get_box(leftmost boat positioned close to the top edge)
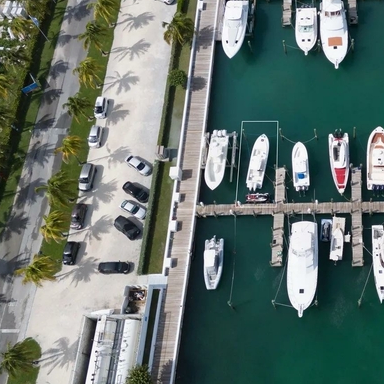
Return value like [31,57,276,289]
[221,0,248,59]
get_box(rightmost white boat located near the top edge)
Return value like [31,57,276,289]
[318,0,349,68]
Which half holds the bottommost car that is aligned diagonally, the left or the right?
left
